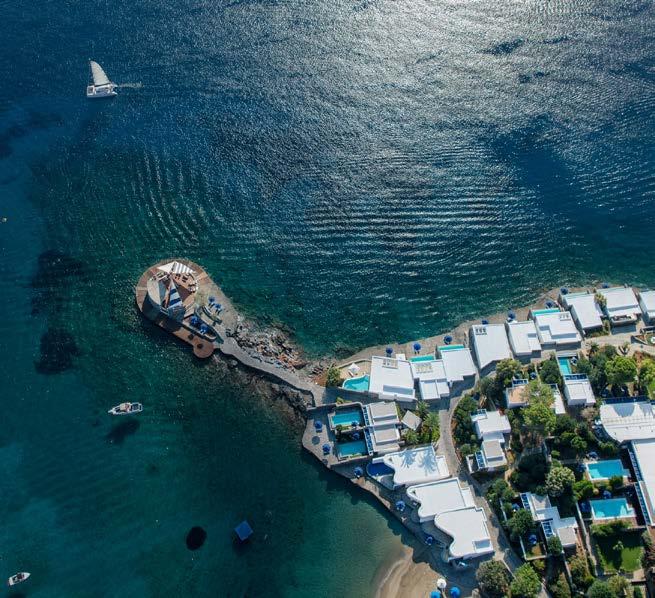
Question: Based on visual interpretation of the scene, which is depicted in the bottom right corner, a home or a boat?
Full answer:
Looking in the bottom right corner, you will find a home.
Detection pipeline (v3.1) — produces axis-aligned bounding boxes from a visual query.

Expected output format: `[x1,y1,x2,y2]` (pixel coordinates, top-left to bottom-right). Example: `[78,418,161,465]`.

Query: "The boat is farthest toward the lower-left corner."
[8,572,31,586]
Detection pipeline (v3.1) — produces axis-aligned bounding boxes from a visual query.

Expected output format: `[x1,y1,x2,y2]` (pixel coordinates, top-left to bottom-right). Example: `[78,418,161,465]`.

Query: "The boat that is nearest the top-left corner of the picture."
[84,59,120,98]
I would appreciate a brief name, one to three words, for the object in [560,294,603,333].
house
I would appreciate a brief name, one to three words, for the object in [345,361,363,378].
umbrella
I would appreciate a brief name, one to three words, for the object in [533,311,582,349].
house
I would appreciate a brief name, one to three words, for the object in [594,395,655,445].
building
